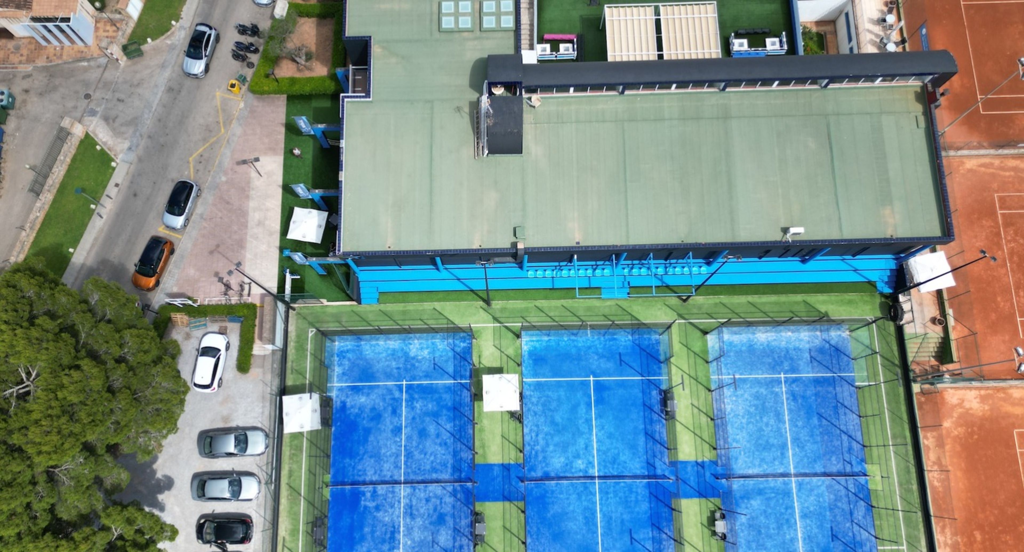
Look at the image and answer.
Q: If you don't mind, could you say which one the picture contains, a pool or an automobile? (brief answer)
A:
automobile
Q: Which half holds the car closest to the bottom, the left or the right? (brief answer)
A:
left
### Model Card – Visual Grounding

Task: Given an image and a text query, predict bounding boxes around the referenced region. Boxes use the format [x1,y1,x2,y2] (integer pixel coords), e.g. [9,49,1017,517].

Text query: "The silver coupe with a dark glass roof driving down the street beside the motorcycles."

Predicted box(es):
[181,23,218,77]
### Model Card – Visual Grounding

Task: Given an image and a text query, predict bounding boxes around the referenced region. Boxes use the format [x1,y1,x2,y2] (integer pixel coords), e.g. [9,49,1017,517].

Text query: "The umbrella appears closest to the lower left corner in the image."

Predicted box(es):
[283,393,321,433]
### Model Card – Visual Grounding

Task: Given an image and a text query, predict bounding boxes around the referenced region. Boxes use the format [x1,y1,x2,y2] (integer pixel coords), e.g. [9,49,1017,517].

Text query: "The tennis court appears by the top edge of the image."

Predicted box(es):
[898,0,1024,133]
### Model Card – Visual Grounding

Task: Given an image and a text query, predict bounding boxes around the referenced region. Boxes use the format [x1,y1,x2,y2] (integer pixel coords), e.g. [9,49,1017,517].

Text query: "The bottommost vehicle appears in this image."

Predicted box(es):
[195,517,254,552]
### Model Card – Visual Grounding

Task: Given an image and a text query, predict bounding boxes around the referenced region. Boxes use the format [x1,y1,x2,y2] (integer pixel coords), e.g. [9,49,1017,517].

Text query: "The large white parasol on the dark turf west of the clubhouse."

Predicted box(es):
[287,207,329,244]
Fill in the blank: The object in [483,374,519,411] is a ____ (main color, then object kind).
white umbrella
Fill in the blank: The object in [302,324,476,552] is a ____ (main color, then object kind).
blue sports court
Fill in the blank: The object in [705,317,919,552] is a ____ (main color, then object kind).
blue sports court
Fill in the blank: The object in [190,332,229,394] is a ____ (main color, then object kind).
white car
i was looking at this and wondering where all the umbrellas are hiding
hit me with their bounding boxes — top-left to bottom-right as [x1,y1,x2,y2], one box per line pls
[287,207,329,244]
[882,20,903,43]
[908,251,955,293]
[483,374,519,411]
[283,393,321,433]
